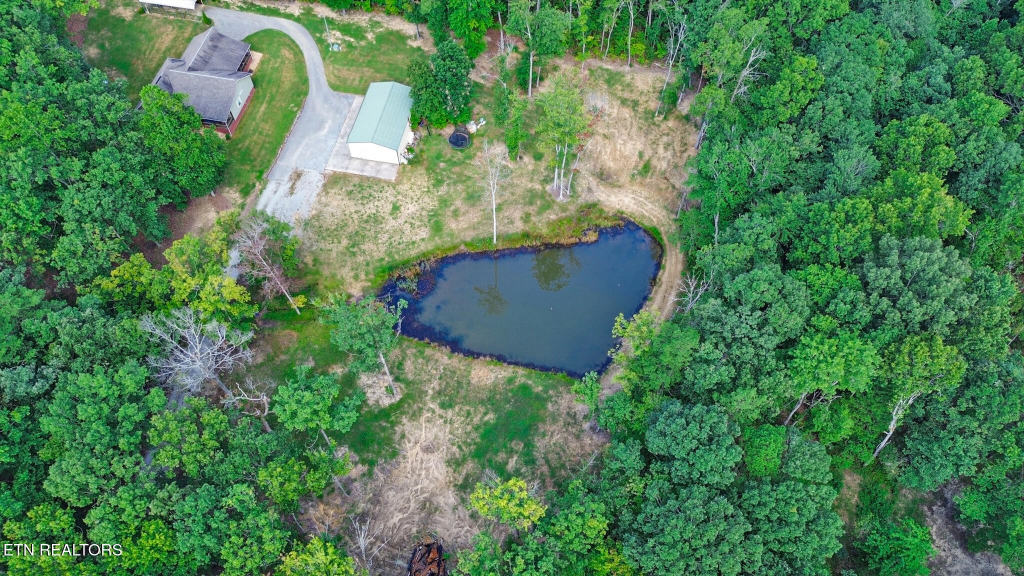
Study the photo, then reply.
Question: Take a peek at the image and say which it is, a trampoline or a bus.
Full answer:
Of the two, only a trampoline appears.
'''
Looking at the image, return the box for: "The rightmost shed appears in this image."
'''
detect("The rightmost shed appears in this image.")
[346,80,421,163]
